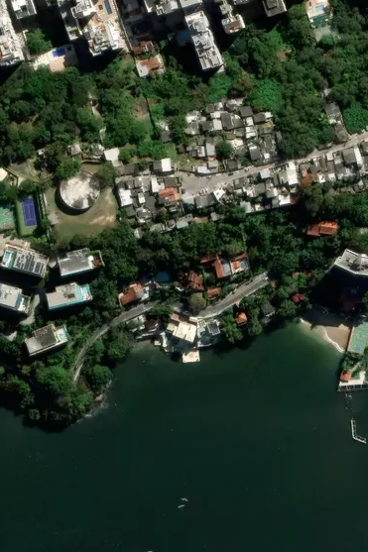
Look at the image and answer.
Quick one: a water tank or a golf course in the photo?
water tank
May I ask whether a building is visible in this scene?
Yes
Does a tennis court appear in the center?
No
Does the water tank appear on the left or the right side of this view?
left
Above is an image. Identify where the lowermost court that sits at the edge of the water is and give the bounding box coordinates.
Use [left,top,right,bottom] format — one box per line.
[348,322,368,352]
